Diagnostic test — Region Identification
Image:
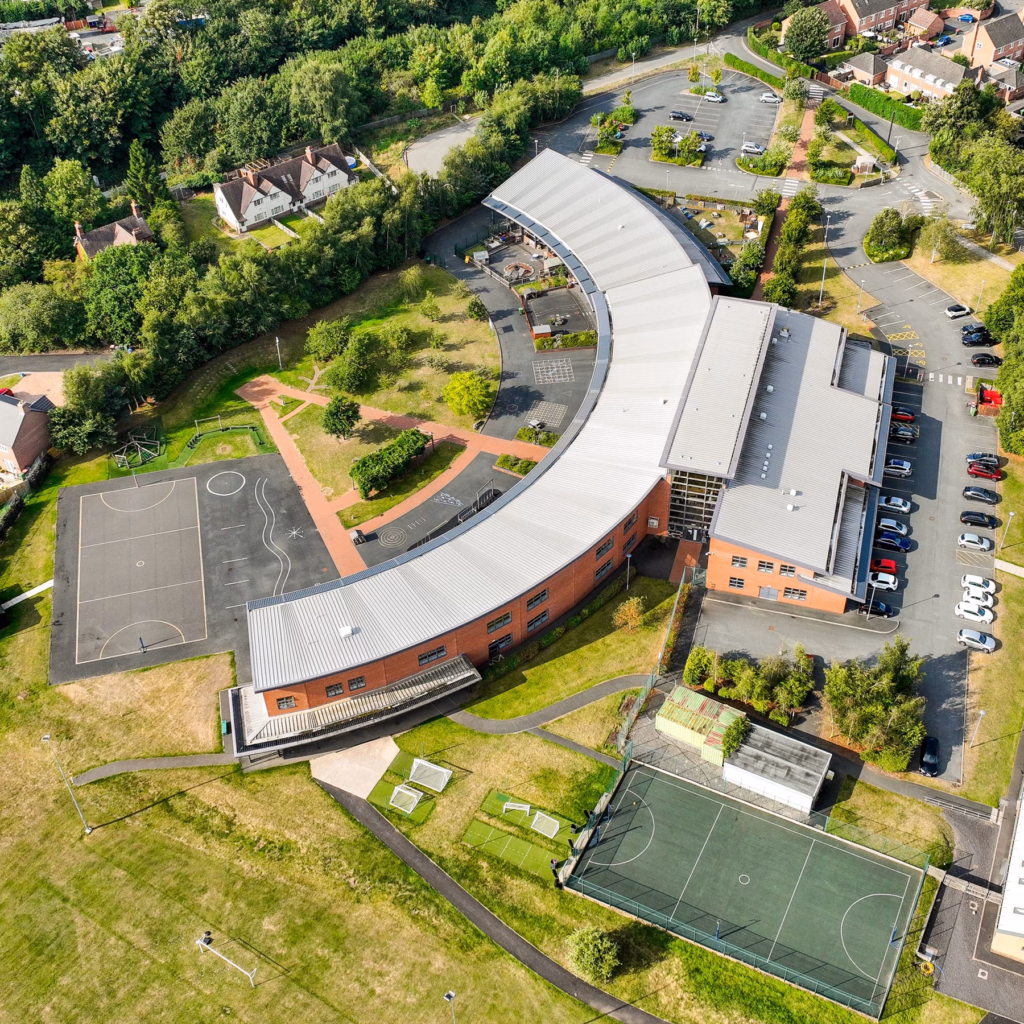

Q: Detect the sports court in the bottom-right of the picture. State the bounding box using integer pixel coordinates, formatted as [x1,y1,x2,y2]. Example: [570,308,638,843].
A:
[573,762,924,1017]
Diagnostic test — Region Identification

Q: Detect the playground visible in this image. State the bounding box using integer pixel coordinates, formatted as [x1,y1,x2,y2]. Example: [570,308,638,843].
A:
[50,452,339,684]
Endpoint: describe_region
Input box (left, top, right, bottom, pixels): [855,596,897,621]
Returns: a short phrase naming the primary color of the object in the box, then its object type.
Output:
black car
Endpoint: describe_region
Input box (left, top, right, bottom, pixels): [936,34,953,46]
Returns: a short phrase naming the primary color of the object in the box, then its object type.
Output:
blue vehicle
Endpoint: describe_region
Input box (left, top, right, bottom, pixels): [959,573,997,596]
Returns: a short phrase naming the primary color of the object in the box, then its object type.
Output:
white car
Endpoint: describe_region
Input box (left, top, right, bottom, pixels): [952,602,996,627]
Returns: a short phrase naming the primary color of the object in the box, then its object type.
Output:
white car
